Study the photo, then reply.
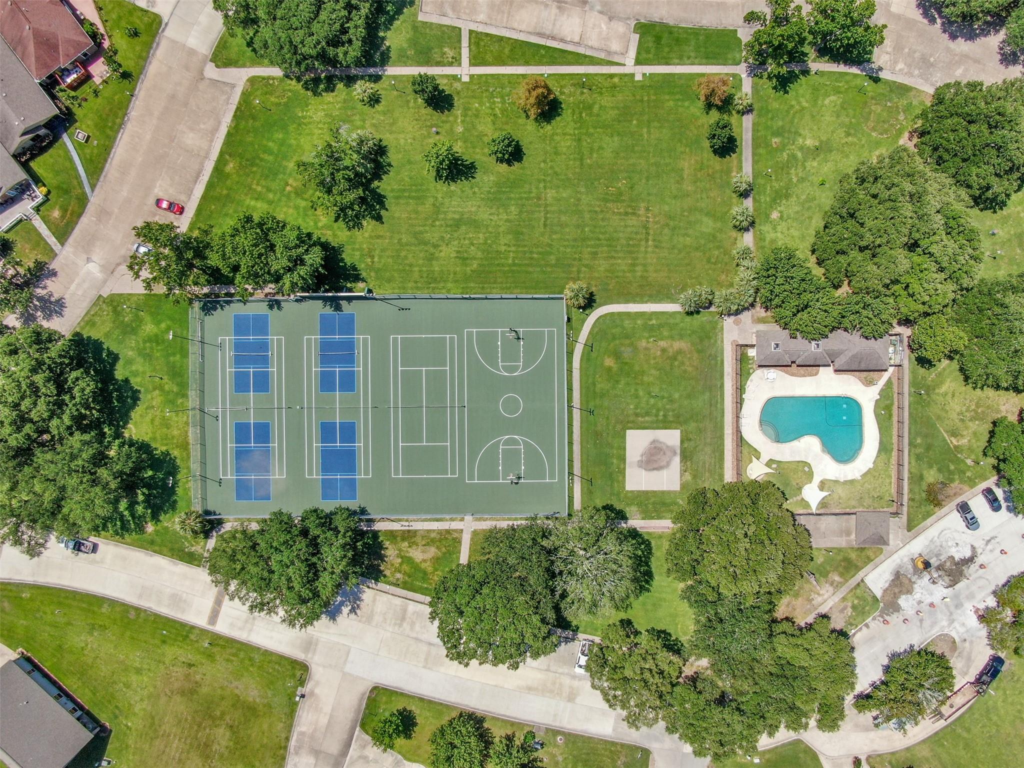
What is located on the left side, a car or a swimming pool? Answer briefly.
car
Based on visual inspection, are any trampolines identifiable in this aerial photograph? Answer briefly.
No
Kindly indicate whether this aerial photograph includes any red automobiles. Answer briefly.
Yes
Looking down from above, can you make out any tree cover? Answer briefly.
Yes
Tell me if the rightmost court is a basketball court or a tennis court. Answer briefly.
basketball court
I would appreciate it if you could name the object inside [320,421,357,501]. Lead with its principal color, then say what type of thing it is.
blue sports court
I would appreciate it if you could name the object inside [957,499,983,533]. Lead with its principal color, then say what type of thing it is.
gray truck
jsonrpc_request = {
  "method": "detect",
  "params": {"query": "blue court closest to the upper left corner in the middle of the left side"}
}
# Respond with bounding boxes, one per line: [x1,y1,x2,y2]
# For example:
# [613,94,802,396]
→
[233,313,270,394]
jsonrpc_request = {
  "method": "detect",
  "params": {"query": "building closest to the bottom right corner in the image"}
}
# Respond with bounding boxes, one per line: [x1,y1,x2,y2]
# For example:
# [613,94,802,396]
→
[850,510,890,546]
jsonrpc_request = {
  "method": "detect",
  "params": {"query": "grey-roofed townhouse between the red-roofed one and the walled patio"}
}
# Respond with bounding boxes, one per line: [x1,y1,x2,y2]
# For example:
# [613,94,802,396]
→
[0,38,67,152]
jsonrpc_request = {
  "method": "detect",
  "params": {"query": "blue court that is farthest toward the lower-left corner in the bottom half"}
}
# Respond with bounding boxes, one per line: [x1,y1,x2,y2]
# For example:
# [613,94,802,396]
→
[234,421,271,501]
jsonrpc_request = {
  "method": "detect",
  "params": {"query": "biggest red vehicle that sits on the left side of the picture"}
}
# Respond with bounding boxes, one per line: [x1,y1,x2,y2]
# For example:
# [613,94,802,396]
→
[152,195,183,214]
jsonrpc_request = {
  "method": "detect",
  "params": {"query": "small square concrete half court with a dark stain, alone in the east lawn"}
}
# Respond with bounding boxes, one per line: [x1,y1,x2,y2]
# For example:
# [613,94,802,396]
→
[626,430,680,490]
